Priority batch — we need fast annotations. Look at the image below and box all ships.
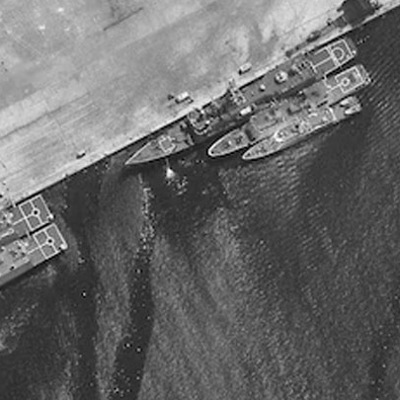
[0,225,67,291]
[243,97,363,162]
[126,34,358,169]
[209,63,372,160]
[0,194,52,250]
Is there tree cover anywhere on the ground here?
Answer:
No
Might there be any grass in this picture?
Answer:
No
